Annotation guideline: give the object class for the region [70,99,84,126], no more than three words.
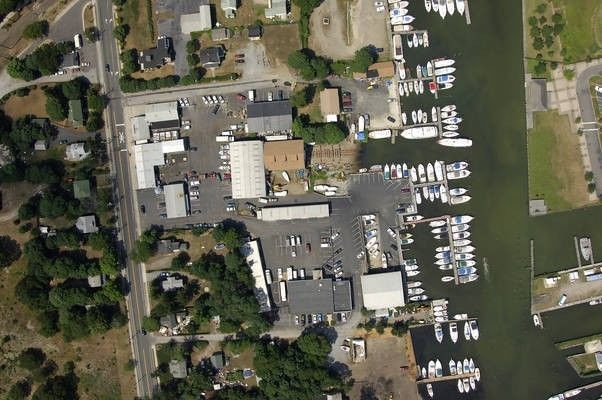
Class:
house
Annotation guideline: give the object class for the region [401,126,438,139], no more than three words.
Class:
boat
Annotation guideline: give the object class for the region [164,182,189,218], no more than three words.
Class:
shed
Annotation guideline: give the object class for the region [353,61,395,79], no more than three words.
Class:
building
